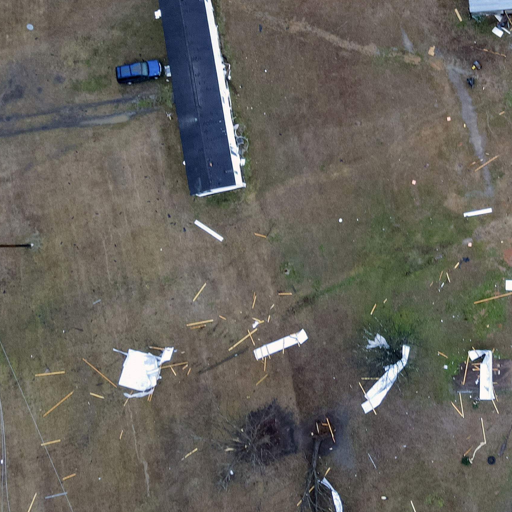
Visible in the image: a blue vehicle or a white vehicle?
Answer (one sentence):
This aerial view contains a blue vehicle.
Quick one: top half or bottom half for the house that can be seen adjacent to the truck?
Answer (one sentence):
The house that can be seen adjacent to the truck is in the top half of the image.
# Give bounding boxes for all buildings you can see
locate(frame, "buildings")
[469,0,512,21]
[159,0,246,197]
